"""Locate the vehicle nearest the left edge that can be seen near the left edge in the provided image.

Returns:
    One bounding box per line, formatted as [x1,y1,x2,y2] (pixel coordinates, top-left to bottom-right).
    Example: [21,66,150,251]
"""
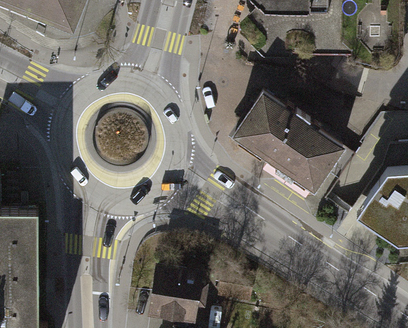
[8,92,36,115]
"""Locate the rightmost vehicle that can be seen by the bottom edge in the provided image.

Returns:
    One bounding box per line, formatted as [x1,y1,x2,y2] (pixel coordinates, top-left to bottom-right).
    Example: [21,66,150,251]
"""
[208,302,222,328]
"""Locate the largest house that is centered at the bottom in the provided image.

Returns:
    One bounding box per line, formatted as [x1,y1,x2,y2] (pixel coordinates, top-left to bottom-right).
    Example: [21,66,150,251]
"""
[148,262,214,324]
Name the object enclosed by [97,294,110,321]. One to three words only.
vehicle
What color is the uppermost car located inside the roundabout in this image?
black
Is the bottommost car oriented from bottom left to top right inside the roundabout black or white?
black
